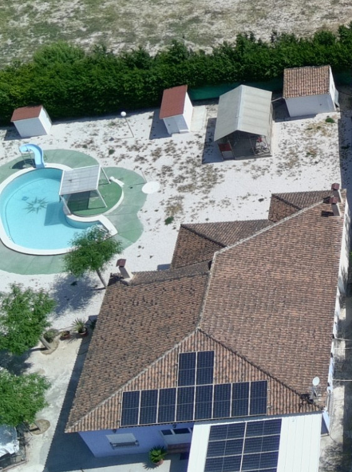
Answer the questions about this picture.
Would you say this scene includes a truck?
No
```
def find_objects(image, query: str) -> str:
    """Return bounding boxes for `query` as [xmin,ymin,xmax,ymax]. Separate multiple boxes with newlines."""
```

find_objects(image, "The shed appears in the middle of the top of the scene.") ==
[161,83,192,136]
